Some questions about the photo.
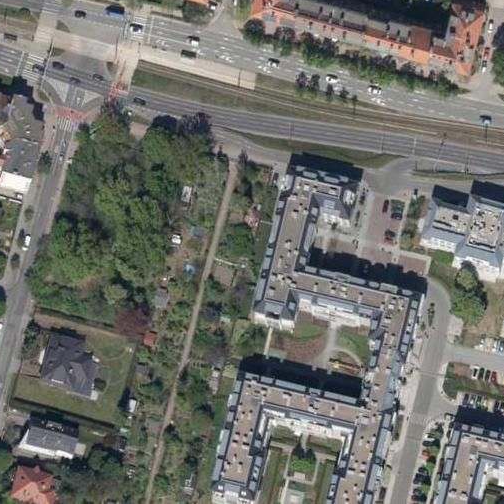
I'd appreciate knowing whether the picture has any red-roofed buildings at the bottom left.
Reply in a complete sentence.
Yes, you'll find a red-roofed building at the bottom left.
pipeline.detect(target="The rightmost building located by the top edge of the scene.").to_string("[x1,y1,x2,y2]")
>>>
[252,0,487,87]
